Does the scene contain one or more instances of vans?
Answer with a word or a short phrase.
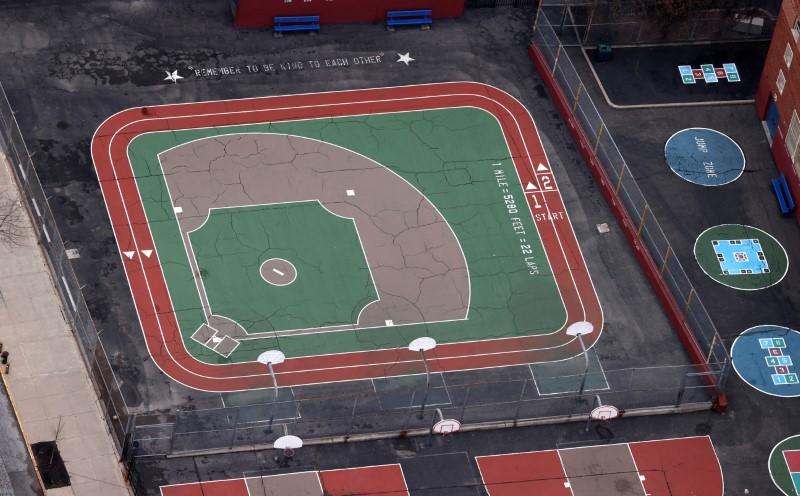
No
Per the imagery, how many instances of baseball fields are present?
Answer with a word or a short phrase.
1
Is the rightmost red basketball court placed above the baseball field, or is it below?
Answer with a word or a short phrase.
below it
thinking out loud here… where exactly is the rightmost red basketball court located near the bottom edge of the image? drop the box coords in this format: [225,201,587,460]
[474,434,726,496]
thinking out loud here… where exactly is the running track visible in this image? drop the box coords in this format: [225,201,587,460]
[92,81,604,392]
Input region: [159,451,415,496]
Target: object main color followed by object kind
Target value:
red basketball court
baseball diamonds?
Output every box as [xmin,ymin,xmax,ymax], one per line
[96,103,574,381]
